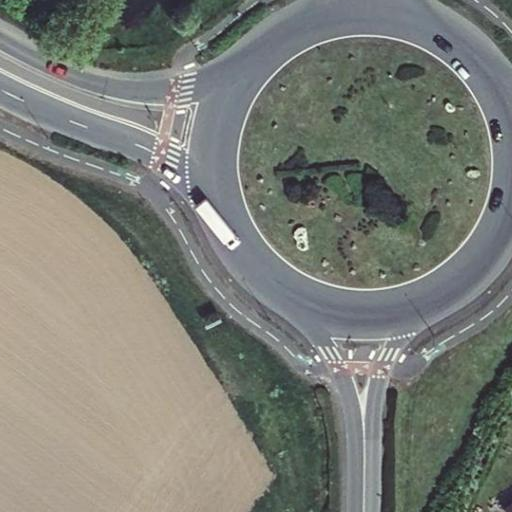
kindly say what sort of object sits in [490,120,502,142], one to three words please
vehicle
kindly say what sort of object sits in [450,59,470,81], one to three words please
vehicle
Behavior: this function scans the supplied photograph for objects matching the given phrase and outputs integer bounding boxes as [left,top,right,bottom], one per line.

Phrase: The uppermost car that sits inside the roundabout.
[434,34,454,54]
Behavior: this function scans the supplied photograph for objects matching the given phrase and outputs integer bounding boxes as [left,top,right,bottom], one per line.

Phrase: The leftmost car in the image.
[48,63,69,78]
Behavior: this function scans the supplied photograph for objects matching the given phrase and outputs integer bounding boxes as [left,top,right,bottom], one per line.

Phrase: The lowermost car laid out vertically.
[490,188,503,212]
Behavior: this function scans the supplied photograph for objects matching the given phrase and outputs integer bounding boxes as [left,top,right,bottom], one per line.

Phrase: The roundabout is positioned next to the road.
[199,0,512,334]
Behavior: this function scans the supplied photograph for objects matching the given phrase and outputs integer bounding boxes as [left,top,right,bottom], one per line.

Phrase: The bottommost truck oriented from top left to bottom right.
[196,200,242,250]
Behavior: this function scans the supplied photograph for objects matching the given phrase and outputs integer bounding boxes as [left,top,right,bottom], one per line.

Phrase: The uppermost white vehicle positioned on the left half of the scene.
[162,167,183,185]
